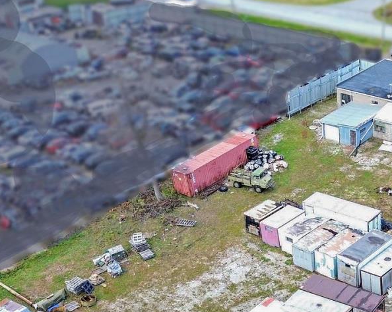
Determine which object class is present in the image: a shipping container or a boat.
shipping container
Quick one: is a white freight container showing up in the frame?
No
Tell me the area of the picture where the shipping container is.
center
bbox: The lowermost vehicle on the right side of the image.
[229,168,273,193]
